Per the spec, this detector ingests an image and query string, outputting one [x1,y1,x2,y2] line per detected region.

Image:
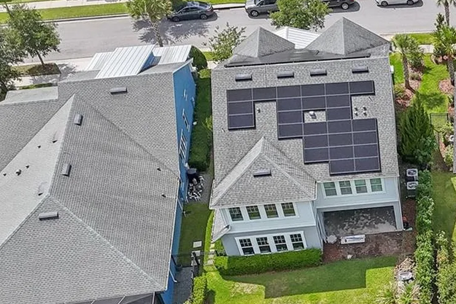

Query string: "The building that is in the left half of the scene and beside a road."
[0,47,204,304]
